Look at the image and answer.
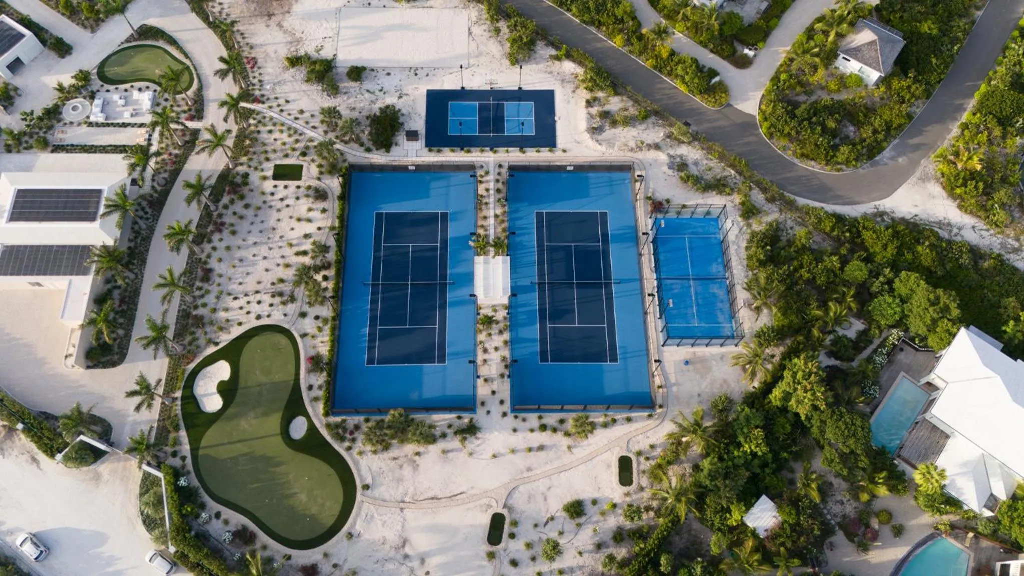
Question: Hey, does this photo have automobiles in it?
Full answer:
Yes, the image includes an automobile.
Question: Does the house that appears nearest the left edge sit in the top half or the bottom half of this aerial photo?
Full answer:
The house that appears nearest the left edge sits in the top half of the picture.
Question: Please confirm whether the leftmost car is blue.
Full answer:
No, the leftmost car is white.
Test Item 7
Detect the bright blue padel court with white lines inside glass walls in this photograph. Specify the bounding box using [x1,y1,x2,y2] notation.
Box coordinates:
[647,216,739,348]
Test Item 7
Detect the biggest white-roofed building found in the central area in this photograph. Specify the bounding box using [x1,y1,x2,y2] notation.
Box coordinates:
[474,256,511,307]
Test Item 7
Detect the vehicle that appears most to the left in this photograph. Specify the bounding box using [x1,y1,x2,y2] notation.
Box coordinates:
[11,532,49,564]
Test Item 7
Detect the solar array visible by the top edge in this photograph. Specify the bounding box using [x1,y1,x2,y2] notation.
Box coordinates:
[0,22,25,55]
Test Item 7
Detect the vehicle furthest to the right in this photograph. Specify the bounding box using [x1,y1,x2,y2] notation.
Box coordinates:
[141,547,177,576]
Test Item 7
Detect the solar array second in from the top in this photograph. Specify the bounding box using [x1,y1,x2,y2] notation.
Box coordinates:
[9,191,103,222]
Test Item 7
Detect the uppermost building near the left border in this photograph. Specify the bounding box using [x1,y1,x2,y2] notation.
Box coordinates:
[0,12,42,78]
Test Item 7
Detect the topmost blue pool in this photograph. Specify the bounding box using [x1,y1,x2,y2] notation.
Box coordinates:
[870,371,929,457]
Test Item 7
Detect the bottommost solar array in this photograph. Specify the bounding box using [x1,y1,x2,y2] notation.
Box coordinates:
[0,247,91,275]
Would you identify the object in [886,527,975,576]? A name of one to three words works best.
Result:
swimming pool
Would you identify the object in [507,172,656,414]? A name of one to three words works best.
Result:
tennis court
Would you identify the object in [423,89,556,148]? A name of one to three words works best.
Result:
sports court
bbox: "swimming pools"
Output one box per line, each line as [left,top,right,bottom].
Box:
[870,371,929,457]
[886,527,975,576]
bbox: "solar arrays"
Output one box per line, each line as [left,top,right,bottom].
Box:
[9,191,103,222]
[0,22,25,55]
[0,247,91,275]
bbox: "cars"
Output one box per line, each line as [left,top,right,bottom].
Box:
[141,547,177,576]
[11,532,49,564]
